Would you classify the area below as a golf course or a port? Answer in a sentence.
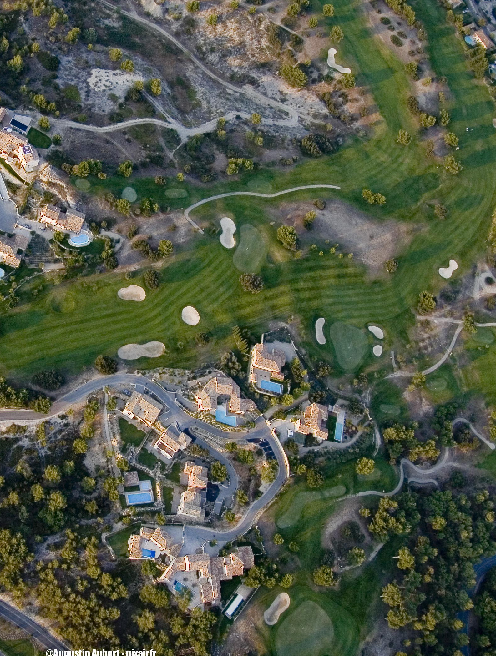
What you see here is a golf course.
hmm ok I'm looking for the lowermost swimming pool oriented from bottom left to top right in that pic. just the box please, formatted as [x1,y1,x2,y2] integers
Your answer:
[224,594,245,618]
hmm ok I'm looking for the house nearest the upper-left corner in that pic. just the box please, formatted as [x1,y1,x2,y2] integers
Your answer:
[0,130,39,174]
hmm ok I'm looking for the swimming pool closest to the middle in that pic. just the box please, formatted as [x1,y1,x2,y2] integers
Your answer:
[260,378,284,395]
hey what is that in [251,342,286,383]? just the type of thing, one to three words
house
